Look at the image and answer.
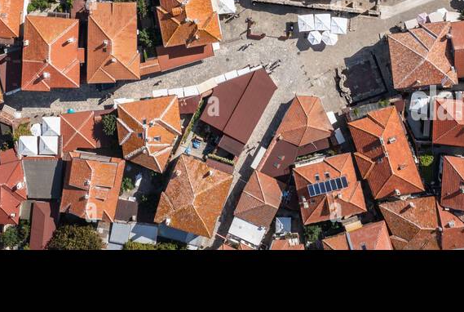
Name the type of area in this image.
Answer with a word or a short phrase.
residential area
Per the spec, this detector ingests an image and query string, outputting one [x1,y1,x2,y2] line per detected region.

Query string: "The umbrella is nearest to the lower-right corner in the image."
[276,216,292,232]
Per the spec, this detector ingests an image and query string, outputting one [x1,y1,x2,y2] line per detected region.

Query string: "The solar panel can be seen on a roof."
[308,176,348,196]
